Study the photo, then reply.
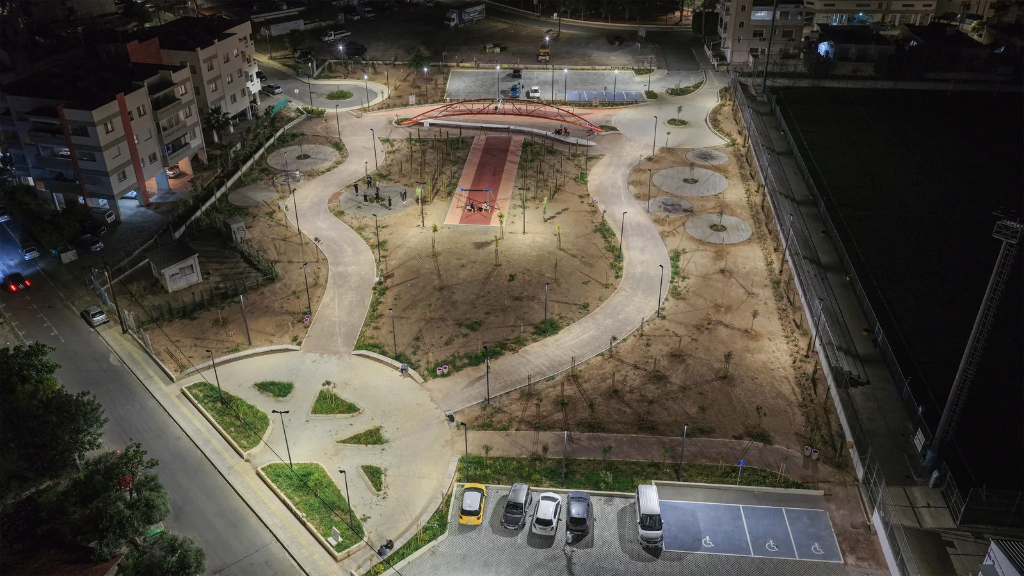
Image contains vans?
Yes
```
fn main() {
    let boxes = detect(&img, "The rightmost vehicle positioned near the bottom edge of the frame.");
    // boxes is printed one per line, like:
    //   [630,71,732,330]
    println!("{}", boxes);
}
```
[632,482,675,550]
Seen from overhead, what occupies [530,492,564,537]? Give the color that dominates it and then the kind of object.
white car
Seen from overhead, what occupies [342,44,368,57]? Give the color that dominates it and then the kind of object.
black vehicle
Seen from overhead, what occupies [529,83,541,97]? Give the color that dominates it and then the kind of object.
white vehicle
